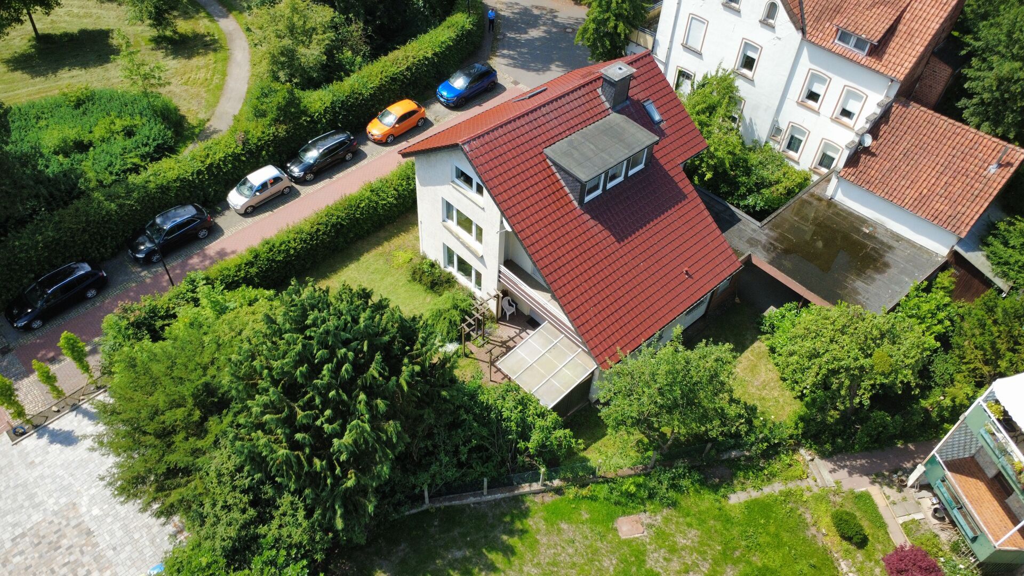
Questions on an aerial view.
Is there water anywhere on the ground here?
No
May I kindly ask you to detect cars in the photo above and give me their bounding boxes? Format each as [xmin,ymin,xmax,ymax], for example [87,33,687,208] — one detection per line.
[0,254,106,330]
[366,99,428,143]
[437,61,498,106]
[225,162,293,212]
[121,201,215,264]
[280,126,358,182]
